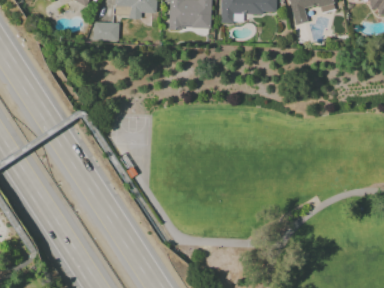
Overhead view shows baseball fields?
No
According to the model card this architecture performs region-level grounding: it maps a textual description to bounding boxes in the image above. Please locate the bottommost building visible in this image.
[95,22,120,42]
